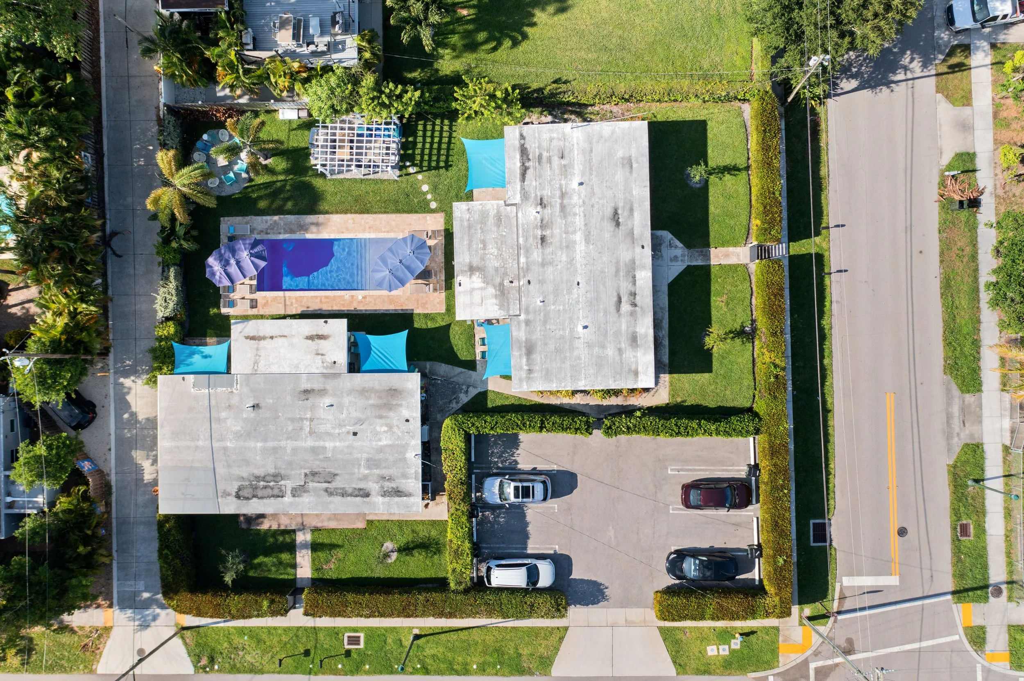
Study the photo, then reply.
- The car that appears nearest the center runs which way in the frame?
horizontally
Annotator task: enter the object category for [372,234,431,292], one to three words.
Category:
umbrella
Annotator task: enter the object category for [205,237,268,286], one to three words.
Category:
umbrella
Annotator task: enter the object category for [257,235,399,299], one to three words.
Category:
swimming pool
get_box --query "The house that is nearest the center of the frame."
[452,121,655,391]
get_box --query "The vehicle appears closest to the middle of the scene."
[482,473,551,507]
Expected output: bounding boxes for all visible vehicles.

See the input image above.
[482,473,551,507]
[484,555,555,591]
[58,382,104,433]
[938,0,1024,30]
[664,548,739,584]
[679,479,752,513]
